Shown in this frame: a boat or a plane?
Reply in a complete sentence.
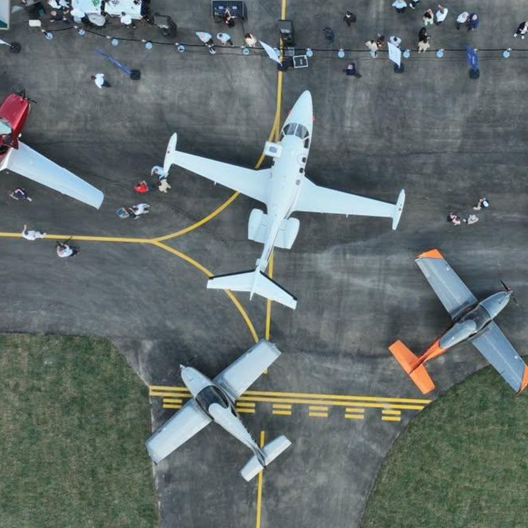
I can see a plane in this picture.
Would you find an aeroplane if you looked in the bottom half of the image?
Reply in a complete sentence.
Yes, an aeroplane shows up in the bottom half of the image.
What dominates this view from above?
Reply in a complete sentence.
The scene is dominated by paved ground.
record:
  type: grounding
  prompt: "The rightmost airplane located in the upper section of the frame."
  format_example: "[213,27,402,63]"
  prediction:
[164,89,405,309]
